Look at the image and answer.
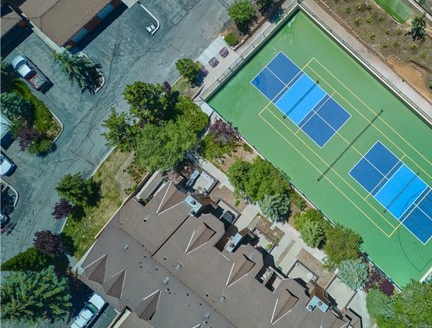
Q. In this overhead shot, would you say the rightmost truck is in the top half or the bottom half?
bottom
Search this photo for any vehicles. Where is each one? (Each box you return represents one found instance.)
[0,213,14,237]
[11,56,46,93]
[64,290,109,328]
[0,153,14,177]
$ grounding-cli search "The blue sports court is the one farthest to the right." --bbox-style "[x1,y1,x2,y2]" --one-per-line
[348,140,432,245]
